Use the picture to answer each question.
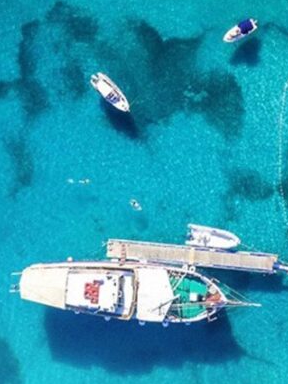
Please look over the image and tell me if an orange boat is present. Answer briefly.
No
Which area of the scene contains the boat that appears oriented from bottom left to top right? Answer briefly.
top right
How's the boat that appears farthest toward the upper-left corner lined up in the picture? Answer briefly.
diagonally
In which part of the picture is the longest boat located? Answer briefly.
bottom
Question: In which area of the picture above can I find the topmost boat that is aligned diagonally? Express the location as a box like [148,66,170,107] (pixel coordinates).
[223,14,259,41]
